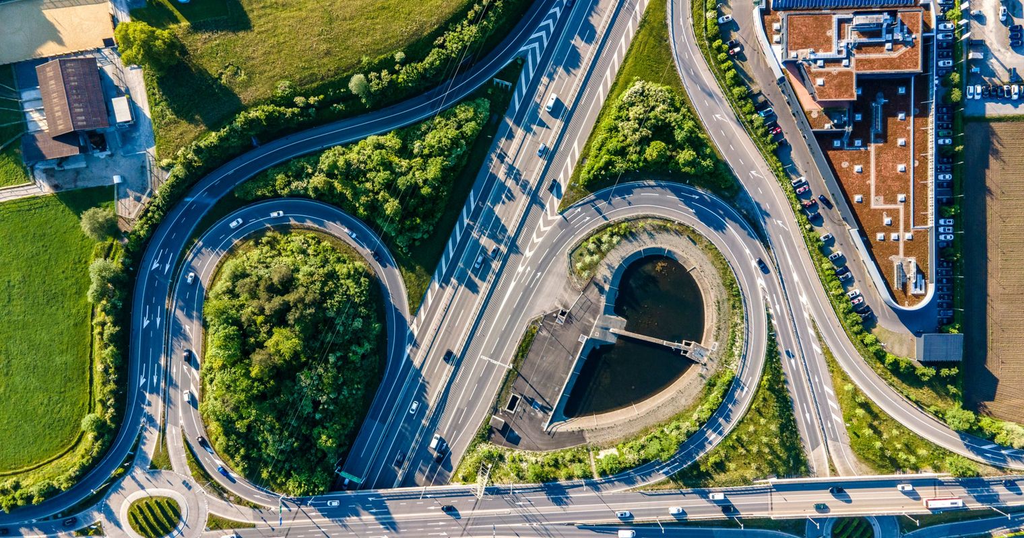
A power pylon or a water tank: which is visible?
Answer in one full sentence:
It is a power pylon that can be seen here.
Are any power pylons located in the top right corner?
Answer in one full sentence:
No, no power pylon appears in the top right corner.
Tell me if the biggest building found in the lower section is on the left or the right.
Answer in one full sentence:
The biggest building found in the lower section appears in the right half of the scene.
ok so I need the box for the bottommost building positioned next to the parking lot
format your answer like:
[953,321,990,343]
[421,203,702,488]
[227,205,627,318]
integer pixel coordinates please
[916,332,964,362]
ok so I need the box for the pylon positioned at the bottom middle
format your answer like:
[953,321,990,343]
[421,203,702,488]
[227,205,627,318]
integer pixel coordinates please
[469,455,496,500]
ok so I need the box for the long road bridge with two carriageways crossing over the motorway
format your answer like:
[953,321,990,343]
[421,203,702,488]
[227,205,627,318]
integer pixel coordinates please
[255,474,1024,538]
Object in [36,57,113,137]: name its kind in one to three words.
barn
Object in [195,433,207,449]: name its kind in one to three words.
vehicle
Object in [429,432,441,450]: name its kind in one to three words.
vehicle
